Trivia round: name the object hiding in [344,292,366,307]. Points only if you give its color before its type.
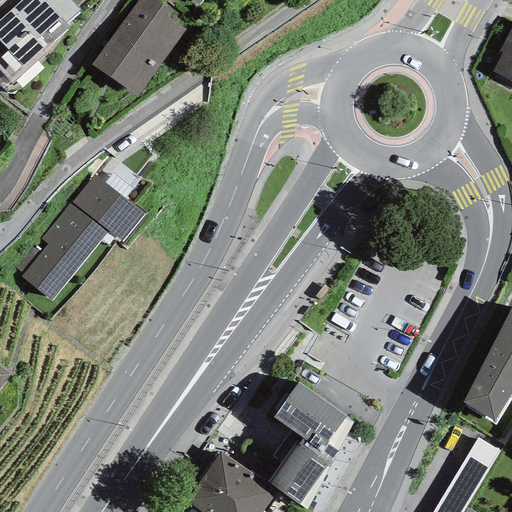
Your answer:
white car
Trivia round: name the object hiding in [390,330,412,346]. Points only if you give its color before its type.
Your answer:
blue car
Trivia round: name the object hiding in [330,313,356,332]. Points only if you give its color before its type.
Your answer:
white vehicle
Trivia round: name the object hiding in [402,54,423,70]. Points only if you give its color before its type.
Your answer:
white car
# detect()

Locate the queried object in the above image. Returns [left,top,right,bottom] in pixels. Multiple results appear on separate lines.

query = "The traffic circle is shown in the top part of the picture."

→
[321,32,469,180]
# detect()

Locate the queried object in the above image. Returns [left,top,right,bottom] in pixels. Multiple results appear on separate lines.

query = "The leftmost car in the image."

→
[115,135,136,152]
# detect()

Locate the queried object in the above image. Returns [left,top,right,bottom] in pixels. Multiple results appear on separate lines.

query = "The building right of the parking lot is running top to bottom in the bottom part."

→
[464,314,512,426]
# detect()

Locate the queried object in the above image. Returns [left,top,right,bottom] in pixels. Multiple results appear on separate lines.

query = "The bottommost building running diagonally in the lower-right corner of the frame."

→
[432,437,501,512]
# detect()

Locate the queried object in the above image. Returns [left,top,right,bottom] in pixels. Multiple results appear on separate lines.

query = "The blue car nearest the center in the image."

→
[350,279,373,296]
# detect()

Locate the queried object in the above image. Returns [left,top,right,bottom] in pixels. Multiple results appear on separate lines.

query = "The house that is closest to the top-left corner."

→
[0,0,82,84]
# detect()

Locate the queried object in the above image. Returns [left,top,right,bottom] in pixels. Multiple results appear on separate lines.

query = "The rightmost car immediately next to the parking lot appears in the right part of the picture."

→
[461,269,474,290]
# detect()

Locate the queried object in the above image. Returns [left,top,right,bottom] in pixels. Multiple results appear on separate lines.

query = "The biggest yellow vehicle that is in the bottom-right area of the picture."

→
[446,426,463,452]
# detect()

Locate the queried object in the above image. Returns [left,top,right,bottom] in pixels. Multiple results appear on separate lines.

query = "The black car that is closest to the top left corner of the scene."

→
[201,219,216,244]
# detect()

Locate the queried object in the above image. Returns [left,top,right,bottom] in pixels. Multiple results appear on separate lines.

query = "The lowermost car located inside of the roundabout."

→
[393,155,417,168]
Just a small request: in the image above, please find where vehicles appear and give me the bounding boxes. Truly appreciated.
[115,135,136,152]
[384,342,406,356]
[402,54,423,70]
[350,279,373,296]
[421,354,436,375]
[446,426,463,452]
[344,292,366,307]
[390,316,417,335]
[203,413,220,434]
[330,313,356,332]
[362,258,385,274]
[201,219,216,244]
[380,354,400,370]
[393,155,417,168]
[222,385,241,408]
[338,302,359,318]
[357,268,381,285]
[390,330,412,346]
[408,294,430,312]
[461,269,474,290]
[300,368,322,386]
